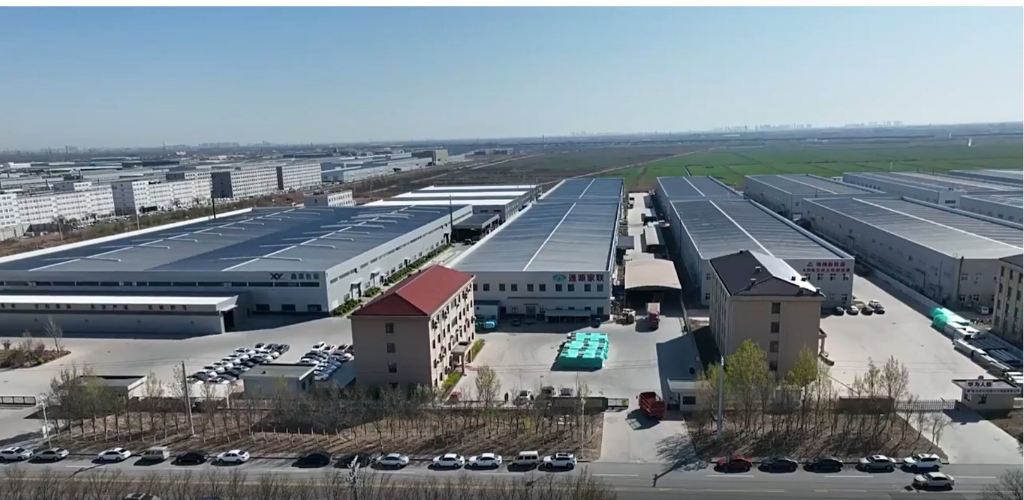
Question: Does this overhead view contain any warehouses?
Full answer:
Yes, you can see a warehouse in this photo.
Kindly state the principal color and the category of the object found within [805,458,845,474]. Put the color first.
black car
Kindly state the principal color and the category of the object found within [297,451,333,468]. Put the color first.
black car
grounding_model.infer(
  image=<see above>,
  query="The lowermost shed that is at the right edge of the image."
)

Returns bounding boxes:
[948,376,1024,412]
